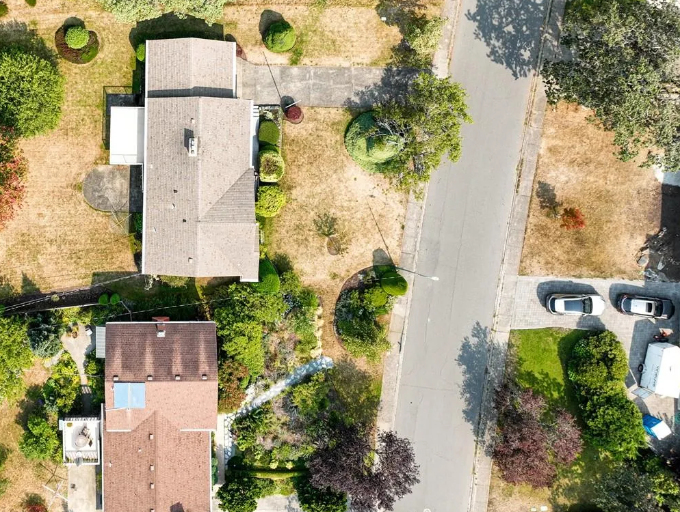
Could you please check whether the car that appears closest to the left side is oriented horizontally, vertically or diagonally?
horizontally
